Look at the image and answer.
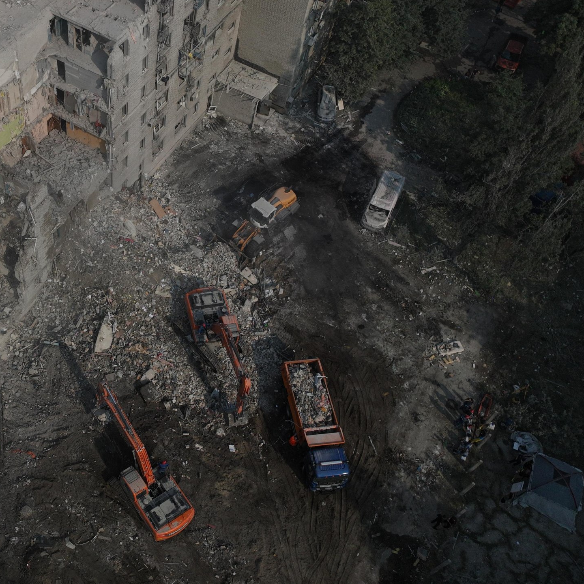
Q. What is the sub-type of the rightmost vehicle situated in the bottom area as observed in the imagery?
truck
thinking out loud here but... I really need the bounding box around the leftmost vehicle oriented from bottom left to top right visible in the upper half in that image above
[215,190,301,265]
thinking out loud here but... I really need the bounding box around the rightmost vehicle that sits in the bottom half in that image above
[274,354,355,497]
